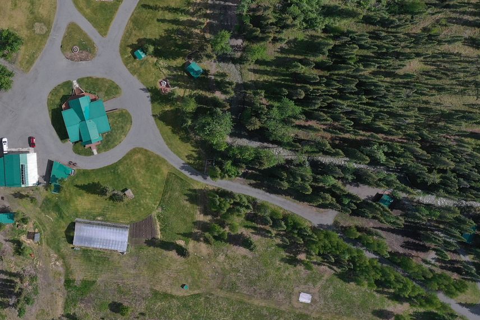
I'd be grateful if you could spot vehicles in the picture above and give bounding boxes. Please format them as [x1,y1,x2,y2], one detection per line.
[2,137,8,154]
[30,136,36,148]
